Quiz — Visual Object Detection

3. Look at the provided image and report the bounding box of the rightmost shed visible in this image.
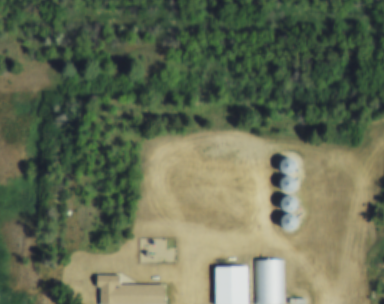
[256,258,286,304]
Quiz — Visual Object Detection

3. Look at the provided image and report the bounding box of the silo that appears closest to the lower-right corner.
[280,214,302,233]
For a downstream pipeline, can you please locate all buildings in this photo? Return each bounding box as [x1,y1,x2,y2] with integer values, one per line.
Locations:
[216,265,250,304]
[256,258,286,304]
[98,275,166,304]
